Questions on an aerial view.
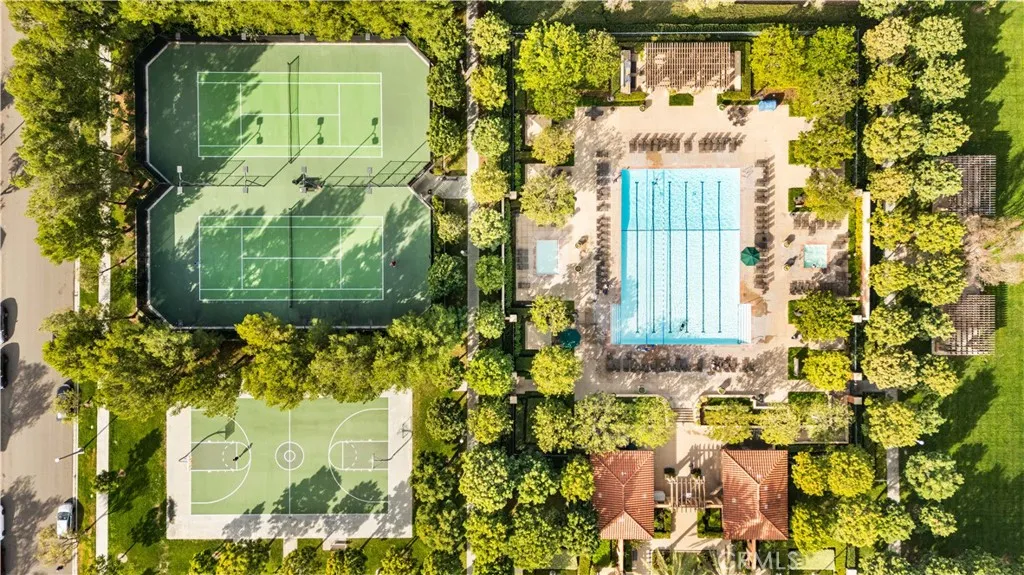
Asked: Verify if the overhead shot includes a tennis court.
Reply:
Yes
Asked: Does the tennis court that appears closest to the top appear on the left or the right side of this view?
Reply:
left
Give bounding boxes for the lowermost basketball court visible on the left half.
[166,390,412,540]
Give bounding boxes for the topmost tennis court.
[148,44,427,187]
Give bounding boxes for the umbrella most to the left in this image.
[559,327,580,348]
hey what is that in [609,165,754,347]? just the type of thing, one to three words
swimming pool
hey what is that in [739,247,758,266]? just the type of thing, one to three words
umbrella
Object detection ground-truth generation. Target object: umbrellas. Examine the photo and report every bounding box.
[739,247,758,266]
[559,327,580,348]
